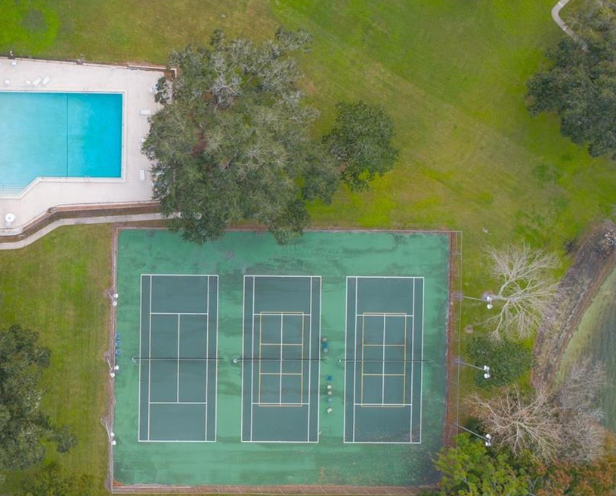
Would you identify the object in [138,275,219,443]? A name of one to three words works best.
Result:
tennis court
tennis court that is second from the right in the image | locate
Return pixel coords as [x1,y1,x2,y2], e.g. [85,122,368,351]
[242,275,322,443]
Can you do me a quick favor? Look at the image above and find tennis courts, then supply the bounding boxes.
[343,276,425,444]
[242,275,322,443]
[138,275,219,443]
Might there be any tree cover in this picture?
Yes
